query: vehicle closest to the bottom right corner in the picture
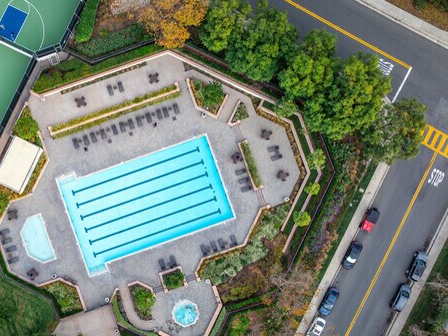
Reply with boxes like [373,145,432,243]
[388,282,411,312]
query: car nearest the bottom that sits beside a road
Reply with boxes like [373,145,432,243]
[305,315,327,336]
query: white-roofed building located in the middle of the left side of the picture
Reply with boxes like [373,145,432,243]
[0,137,46,194]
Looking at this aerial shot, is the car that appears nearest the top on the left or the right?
right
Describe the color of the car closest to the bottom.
white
